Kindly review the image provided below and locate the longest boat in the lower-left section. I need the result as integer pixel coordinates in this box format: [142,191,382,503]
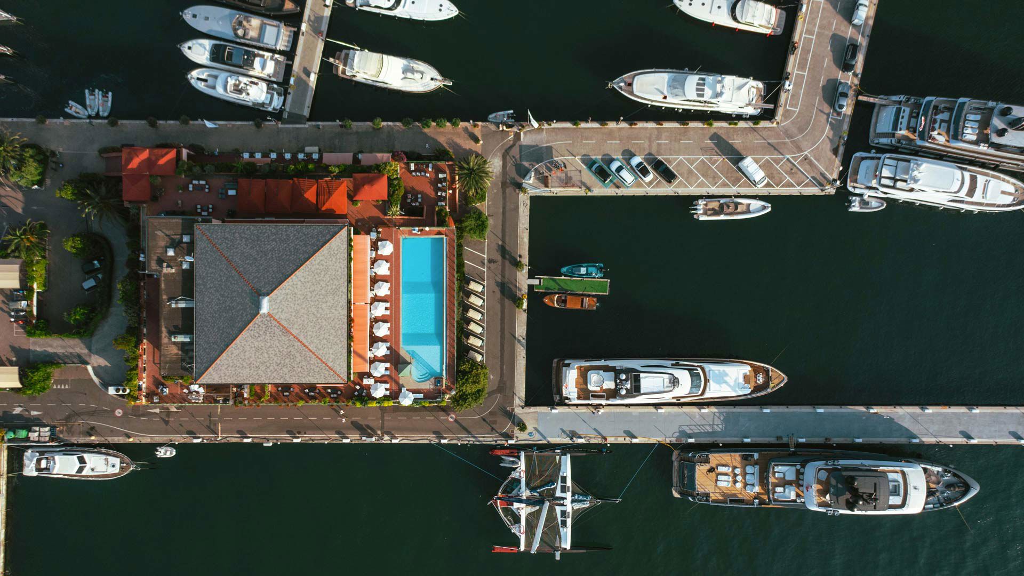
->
[24,448,140,480]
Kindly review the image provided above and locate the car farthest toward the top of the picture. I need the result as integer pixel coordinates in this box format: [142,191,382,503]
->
[849,0,869,30]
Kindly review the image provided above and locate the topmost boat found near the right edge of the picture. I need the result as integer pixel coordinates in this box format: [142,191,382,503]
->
[864,95,1024,169]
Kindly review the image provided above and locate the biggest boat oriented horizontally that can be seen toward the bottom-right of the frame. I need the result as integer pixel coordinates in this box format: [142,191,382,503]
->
[671,447,980,514]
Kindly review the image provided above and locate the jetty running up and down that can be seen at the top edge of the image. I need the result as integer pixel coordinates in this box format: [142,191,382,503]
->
[284,0,335,122]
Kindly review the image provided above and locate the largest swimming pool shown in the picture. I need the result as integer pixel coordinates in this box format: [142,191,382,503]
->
[400,231,446,389]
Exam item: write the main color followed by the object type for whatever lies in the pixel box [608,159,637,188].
white car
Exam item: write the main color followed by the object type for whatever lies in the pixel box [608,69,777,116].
white boat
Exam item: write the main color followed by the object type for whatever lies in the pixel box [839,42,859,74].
black car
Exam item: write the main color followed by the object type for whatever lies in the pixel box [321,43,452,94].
white boat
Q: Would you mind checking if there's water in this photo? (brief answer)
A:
Yes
